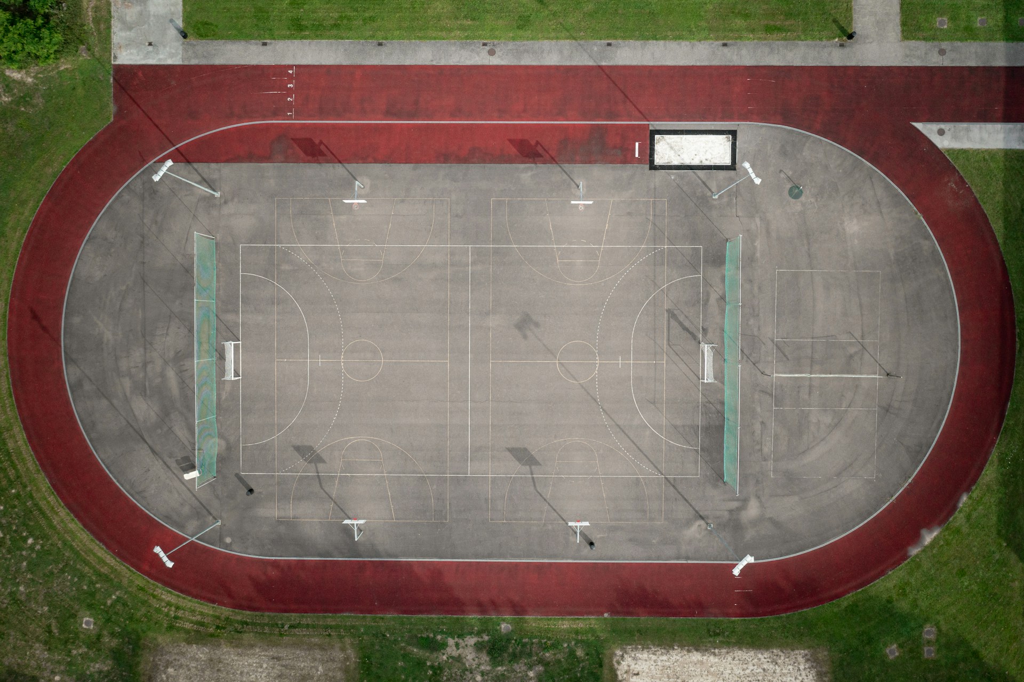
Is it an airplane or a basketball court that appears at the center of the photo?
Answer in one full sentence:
It is a basketball court that can be seen at the center of the photo.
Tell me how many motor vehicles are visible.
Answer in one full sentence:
The photo contains no motor vehicles.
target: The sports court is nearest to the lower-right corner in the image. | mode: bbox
[771,269,881,479]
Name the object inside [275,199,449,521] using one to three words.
basketball court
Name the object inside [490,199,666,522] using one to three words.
basketball court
